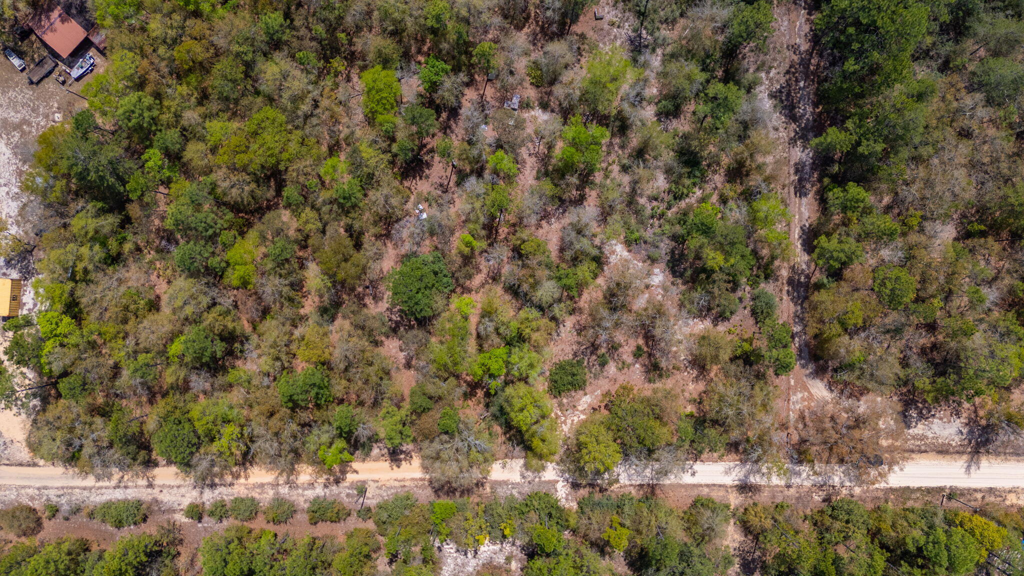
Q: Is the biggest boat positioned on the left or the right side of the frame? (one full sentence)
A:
You can find the biggest boat on the left side of the picture.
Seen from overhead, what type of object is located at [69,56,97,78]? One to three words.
boat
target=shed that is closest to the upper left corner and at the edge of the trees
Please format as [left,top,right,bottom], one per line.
[29,0,89,61]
